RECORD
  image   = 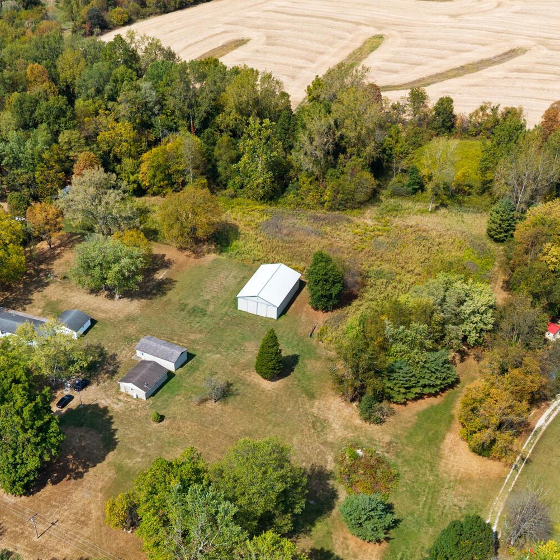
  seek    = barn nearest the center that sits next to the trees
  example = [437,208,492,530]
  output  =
[235,264,303,320]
